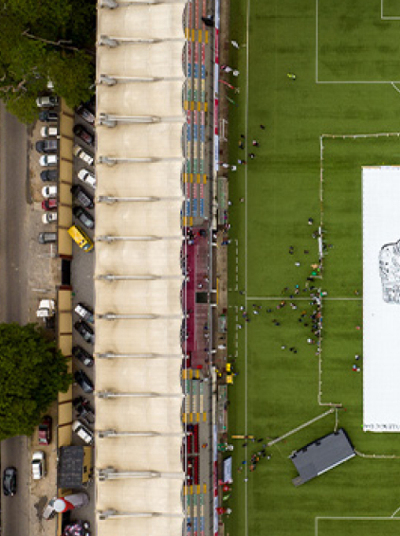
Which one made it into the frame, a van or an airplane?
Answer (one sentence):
The one in the frame is a van.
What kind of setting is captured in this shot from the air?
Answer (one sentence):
What you see here is a sports ground.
